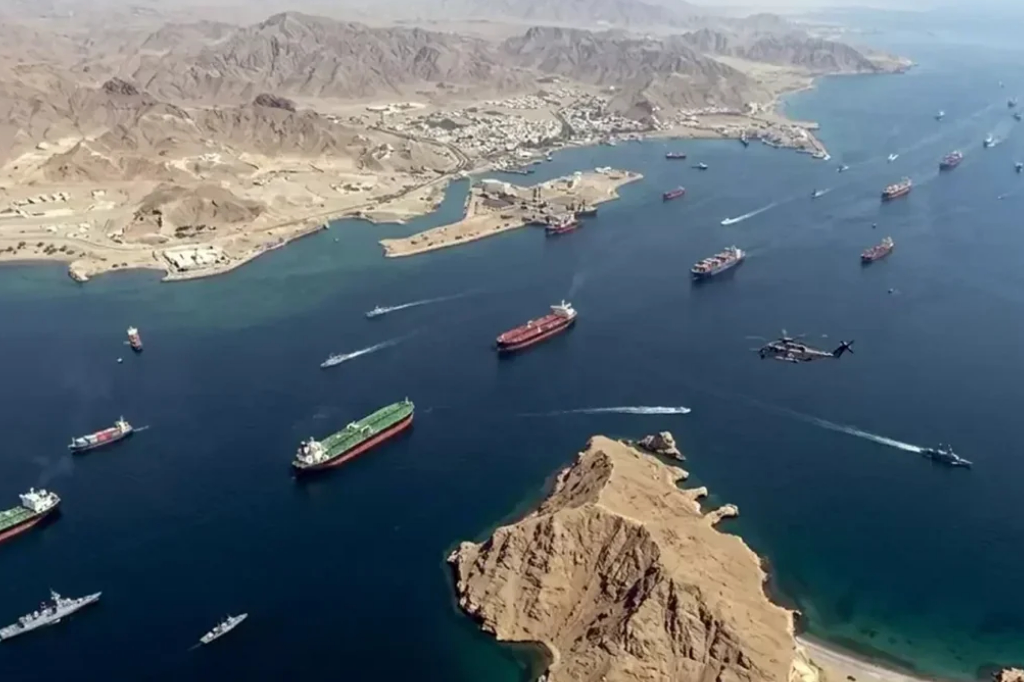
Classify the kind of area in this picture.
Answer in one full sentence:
It's a port.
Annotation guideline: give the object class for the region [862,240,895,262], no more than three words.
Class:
ship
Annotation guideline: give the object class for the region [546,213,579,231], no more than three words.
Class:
ship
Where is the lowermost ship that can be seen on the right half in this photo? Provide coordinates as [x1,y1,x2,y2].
[921,449,970,467]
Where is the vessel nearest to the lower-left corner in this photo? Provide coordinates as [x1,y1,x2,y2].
[0,591,98,640]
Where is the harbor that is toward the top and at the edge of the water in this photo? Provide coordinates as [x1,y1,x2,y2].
[380,170,643,257]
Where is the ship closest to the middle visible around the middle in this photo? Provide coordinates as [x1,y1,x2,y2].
[498,305,578,347]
